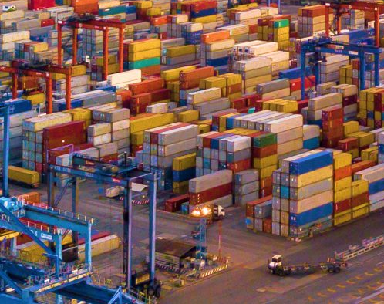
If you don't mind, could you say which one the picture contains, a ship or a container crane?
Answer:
container crane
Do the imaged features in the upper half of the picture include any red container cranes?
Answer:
Yes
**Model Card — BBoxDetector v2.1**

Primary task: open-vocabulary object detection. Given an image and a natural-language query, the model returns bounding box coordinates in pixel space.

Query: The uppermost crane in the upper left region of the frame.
[55,14,133,82]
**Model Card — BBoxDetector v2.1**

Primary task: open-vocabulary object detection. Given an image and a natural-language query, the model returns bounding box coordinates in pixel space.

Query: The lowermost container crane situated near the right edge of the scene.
[298,38,384,99]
